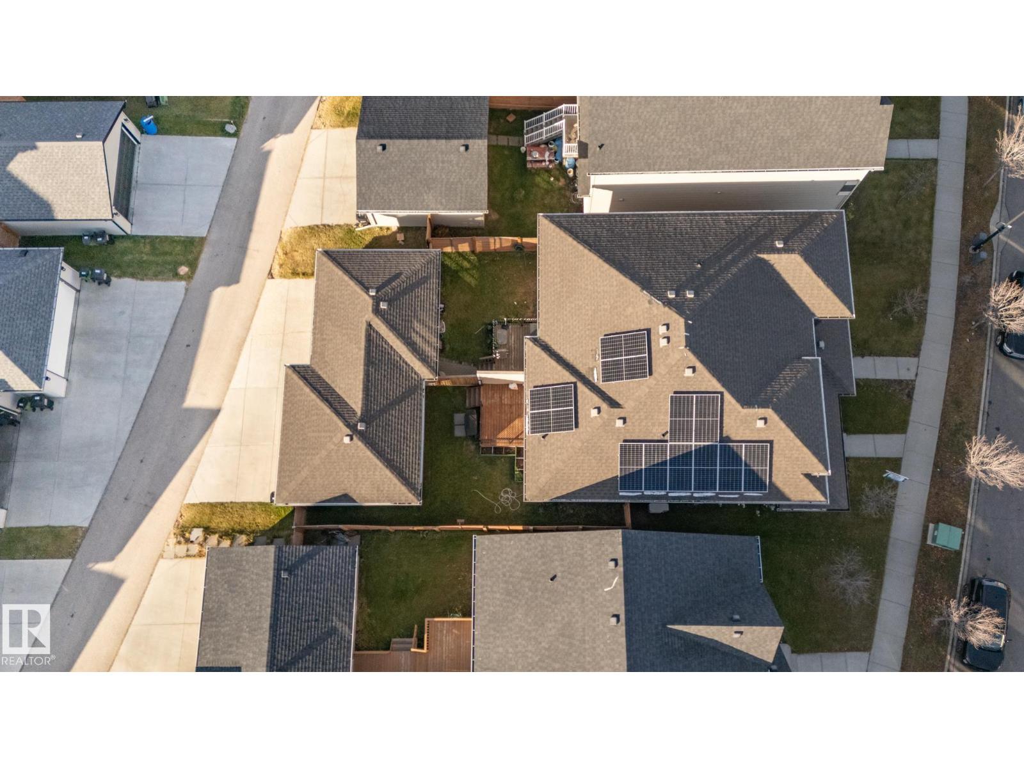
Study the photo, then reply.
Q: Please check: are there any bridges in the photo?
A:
No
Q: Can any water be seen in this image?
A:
No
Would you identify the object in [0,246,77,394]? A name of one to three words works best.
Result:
building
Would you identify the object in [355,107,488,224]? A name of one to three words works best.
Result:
building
